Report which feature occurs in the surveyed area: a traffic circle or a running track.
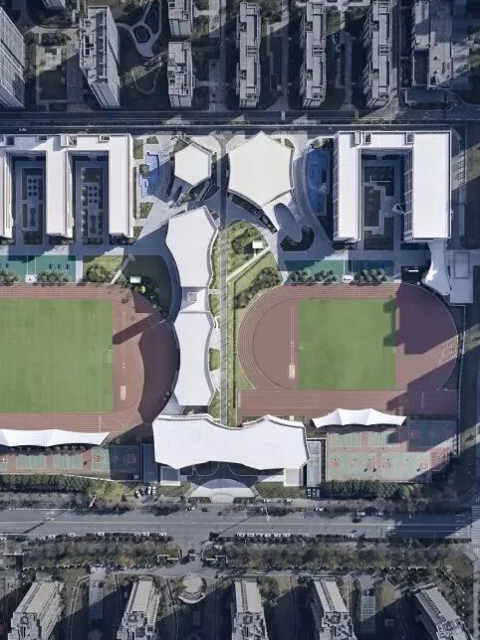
running track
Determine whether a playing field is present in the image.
Yes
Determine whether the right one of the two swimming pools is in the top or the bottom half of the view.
top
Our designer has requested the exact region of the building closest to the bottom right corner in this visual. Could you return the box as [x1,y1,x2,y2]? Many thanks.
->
[414,586,477,640]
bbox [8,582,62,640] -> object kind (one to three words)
building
